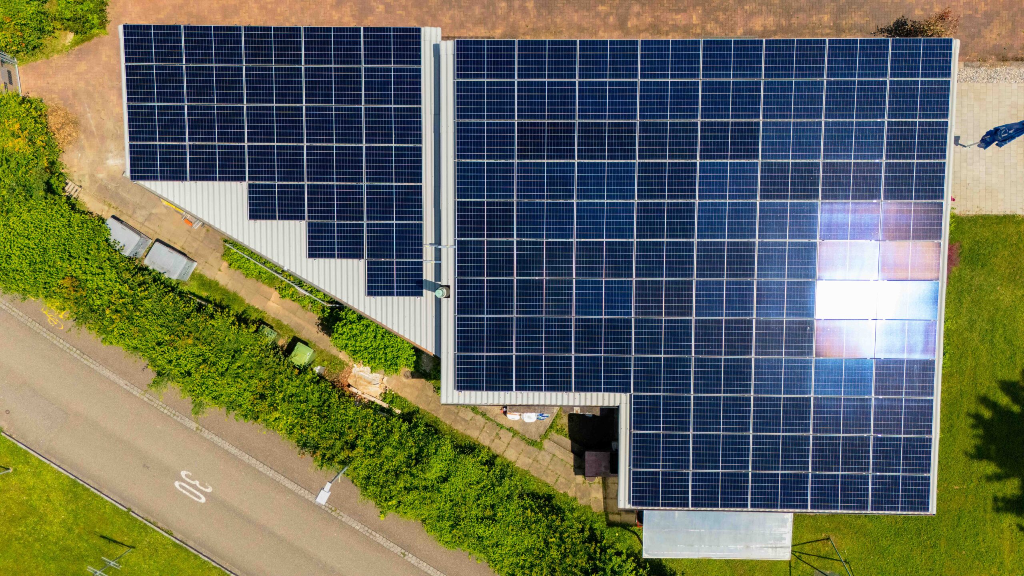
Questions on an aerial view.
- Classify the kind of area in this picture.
solar farm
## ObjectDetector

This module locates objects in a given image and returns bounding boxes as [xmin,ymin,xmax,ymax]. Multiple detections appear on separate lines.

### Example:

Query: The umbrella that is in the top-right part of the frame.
[962,115,1024,149]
